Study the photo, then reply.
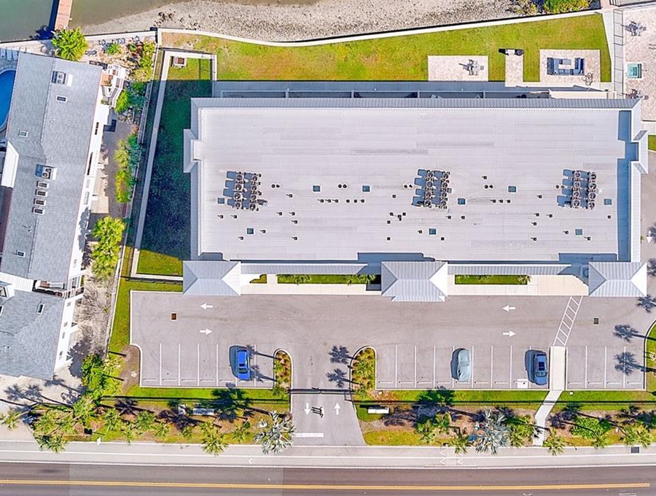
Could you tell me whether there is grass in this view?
Yes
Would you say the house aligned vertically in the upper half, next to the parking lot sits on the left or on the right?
left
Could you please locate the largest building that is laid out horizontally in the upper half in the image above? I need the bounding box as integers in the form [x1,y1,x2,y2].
[183,90,649,301]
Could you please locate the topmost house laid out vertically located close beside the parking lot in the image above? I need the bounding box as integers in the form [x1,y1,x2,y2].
[0,51,128,300]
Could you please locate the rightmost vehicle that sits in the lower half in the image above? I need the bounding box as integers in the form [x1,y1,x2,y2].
[533,349,549,384]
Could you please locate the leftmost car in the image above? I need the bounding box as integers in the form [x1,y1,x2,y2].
[236,349,251,380]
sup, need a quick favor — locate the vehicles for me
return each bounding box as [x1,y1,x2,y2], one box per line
[236,349,251,380]
[456,348,470,382]
[533,349,549,384]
